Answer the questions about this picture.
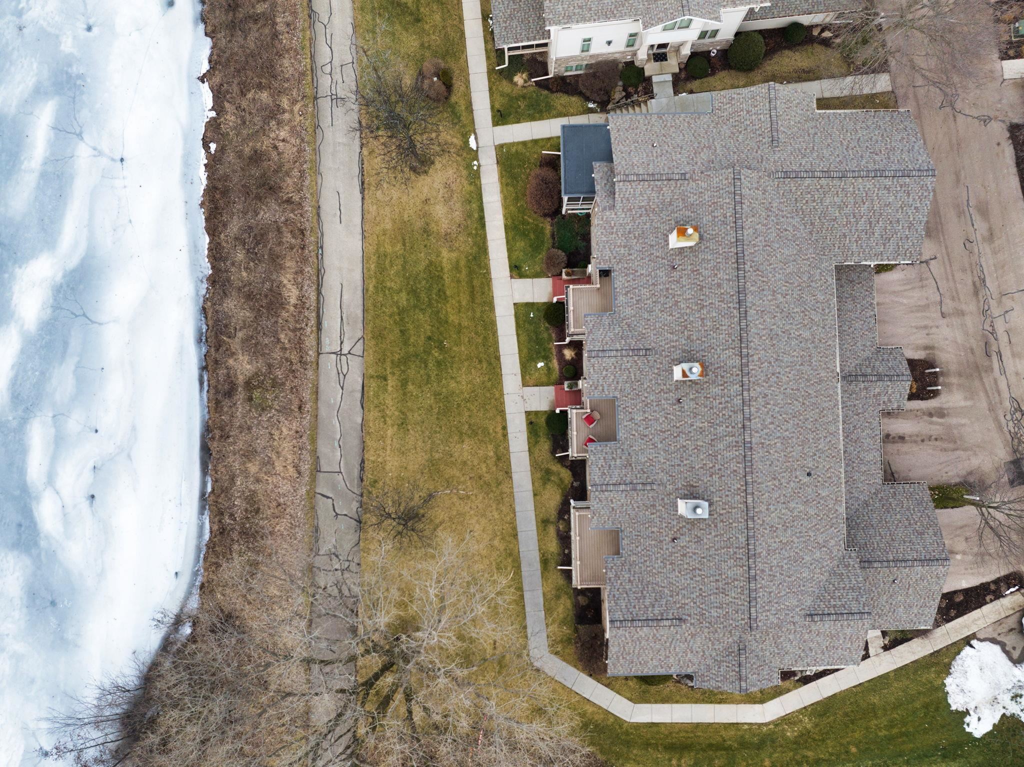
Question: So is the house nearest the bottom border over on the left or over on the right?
right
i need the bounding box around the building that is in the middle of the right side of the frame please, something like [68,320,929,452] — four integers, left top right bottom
[543,84,951,695]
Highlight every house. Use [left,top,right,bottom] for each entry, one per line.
[543,84,951,695]
[491,0,864,81]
